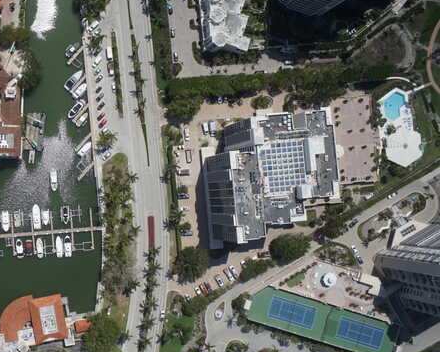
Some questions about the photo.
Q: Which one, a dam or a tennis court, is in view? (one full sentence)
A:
Visible in the photo is a tennis court.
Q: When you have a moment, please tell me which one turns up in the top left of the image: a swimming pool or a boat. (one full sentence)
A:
What appears in the top left of the image is a boat.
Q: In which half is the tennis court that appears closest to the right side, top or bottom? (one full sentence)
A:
The bottom half of the photo is where the tennis court that appears closest to the right side is.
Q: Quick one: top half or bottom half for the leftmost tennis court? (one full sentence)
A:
You can find the leftmost tennis court in the bottom half.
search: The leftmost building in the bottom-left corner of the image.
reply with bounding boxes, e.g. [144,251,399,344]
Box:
[0,294,68,352]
